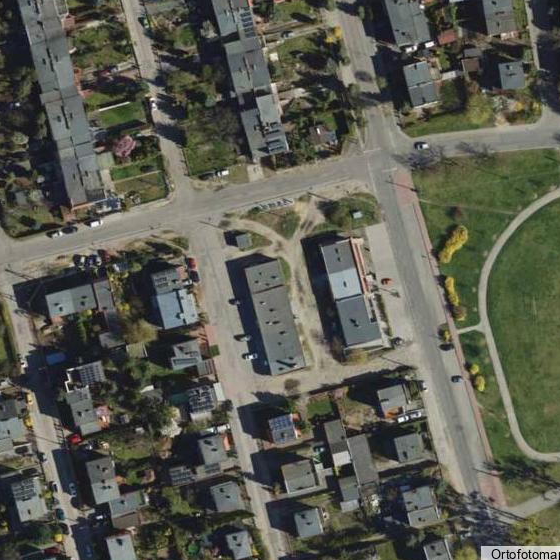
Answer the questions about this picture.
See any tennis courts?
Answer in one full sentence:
No, there is no tennis court in the image.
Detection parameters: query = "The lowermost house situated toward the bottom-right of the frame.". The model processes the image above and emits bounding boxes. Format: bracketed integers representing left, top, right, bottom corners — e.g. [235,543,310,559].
[423,539,453,560]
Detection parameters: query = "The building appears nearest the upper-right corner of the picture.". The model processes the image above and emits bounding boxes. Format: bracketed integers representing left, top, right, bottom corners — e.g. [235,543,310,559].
[482,0,519,41]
